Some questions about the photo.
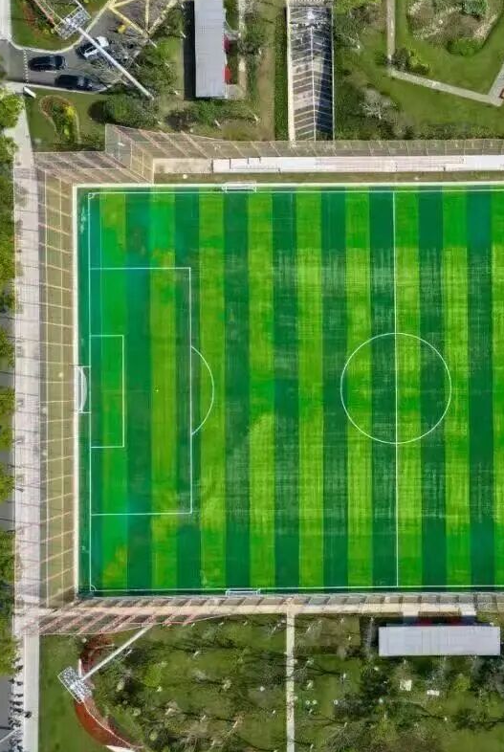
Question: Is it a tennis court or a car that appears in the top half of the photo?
car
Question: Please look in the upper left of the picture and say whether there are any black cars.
Yes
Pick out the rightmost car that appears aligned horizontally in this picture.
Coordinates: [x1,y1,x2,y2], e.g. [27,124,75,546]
[54,71,92,90]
